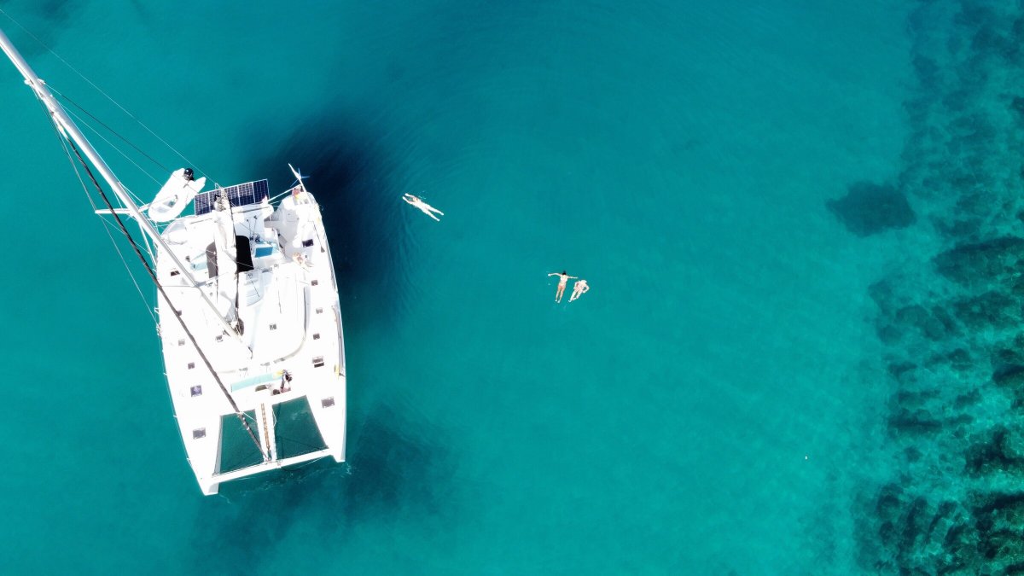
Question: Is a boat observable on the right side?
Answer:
No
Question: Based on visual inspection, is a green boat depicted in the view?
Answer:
No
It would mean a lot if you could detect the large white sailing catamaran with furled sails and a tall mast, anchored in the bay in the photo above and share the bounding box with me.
[0,3,346,498]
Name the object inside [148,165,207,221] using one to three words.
boat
